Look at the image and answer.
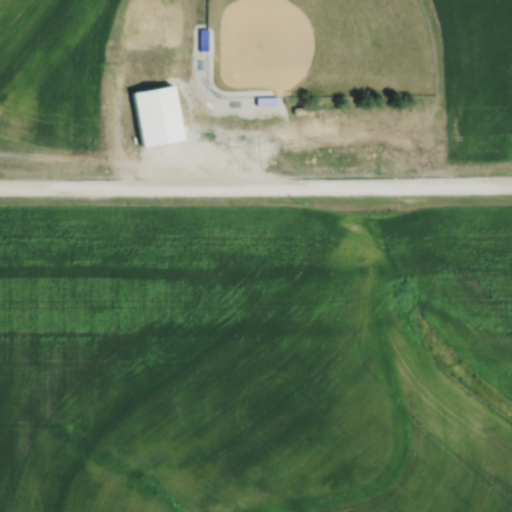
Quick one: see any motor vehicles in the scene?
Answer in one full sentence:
No, the scene contains no motor vehicle.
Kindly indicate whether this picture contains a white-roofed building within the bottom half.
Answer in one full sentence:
No, looking within the bottom half, there is no white-roofed building.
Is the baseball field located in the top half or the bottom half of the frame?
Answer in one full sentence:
You can find the baseball field in the top half.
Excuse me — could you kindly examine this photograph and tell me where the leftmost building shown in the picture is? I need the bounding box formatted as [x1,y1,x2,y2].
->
[135,85,187,147]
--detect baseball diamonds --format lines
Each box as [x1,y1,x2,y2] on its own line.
[209,0,436,95]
